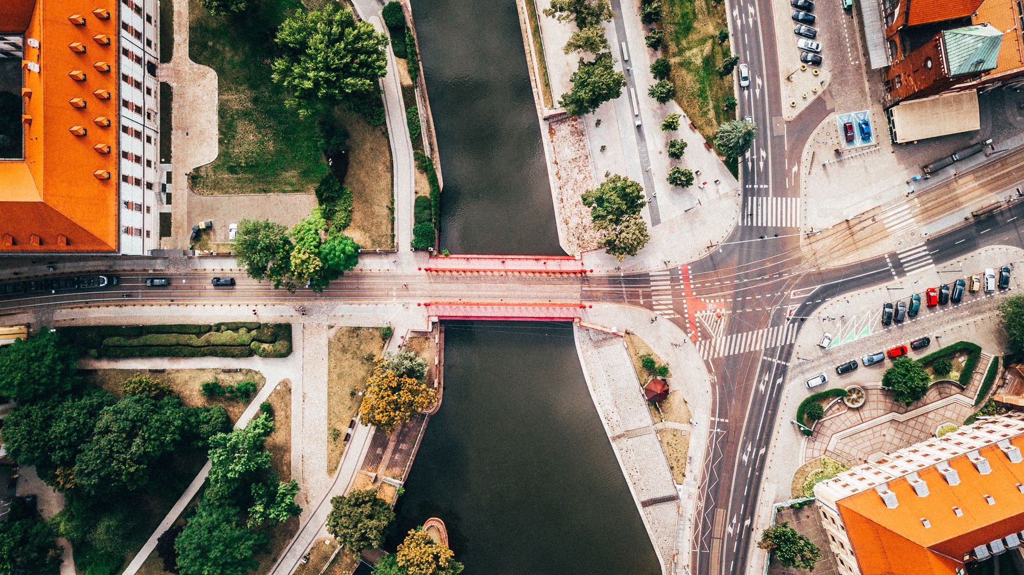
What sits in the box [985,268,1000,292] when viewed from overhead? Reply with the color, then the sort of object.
white vehicle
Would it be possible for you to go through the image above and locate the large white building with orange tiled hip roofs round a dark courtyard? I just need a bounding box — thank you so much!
[0,0,164,254]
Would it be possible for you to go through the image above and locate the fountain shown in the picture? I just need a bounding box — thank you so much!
[844,386,867,408]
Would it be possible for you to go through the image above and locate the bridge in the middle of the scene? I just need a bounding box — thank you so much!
[416,254,595,322]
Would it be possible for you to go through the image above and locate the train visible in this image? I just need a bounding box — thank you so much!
[0,276,122,298]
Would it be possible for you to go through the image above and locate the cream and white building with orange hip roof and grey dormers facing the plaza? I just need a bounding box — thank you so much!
[808,406,1024,575]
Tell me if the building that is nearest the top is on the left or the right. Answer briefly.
right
